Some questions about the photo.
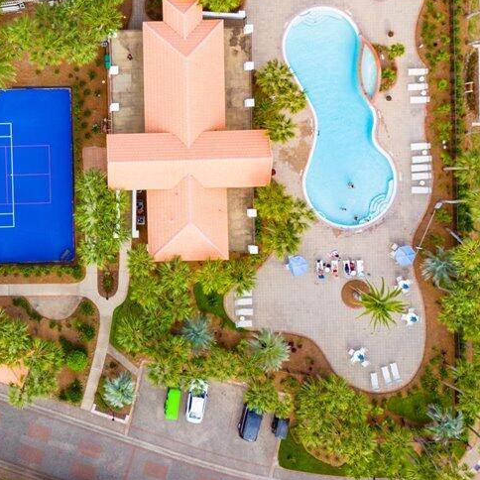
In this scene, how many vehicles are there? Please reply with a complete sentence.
The number of vehicles here is 4.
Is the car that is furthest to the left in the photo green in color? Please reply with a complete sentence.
Yes, green is the color of the car that is furthest to the left.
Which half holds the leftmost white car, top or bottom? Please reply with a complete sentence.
Seen from above, the leftmost white car lies in the bottom half of the view.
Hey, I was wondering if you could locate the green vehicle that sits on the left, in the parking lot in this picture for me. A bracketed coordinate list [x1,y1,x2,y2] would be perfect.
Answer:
[163,385,185,424]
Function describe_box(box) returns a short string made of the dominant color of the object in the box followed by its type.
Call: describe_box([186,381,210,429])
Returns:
white car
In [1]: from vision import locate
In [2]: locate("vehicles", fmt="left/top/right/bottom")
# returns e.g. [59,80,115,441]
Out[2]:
[186,381,210,429]
[272,410,294,447]
[163,385,185,424]
[239,400,267,447]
